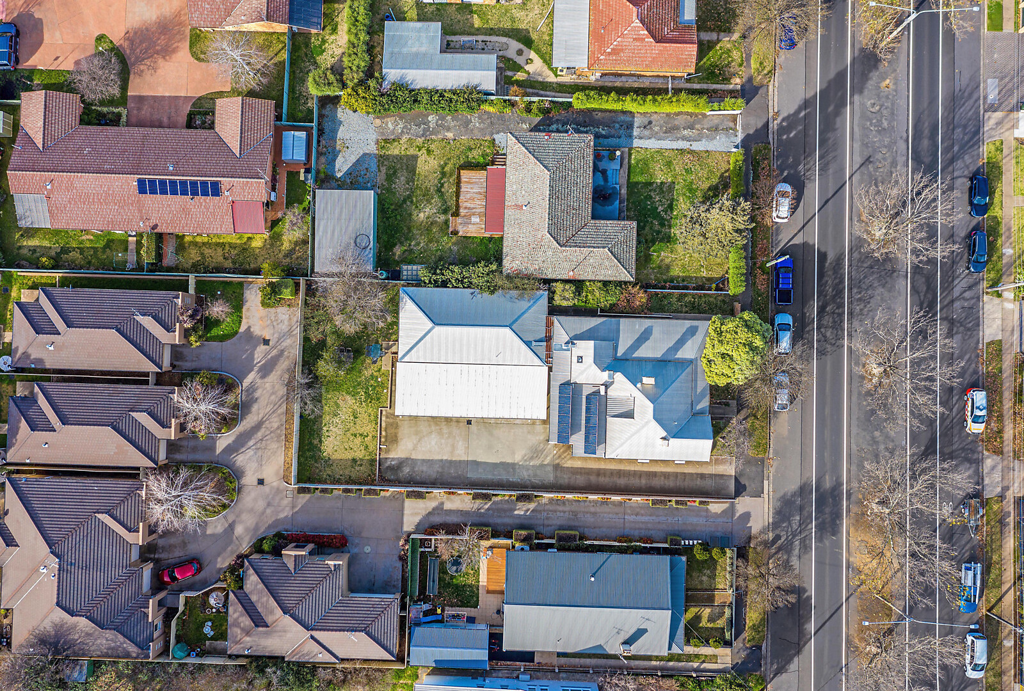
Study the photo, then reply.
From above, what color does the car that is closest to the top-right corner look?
blue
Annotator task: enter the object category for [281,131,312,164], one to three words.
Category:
shed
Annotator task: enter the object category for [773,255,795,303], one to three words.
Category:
truck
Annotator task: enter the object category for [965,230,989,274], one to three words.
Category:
car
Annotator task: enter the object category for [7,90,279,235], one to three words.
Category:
house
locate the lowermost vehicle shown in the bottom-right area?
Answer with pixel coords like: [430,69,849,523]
[963,632,989,680]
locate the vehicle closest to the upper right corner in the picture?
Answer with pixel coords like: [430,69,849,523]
[966,174,990,218]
